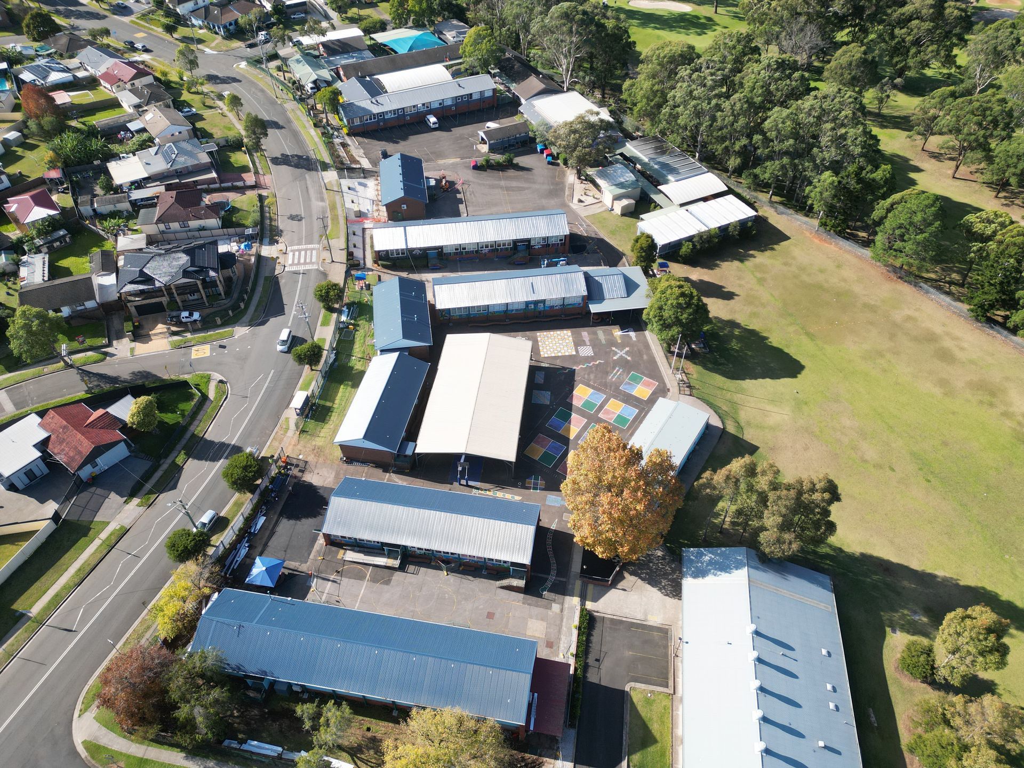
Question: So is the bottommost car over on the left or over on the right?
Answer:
left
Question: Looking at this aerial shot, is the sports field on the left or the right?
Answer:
right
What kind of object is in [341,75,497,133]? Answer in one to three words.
building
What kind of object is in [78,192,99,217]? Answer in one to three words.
shed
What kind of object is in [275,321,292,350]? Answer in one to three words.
vehicle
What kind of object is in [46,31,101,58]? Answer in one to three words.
house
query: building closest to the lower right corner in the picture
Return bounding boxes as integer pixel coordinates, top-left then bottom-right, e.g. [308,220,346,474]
[677,545,860,768]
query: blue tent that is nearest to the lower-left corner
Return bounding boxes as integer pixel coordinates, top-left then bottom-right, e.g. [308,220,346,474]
[245,557,289,595]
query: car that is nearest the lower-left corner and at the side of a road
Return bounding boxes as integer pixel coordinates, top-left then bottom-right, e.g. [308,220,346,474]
[192,501,223,534]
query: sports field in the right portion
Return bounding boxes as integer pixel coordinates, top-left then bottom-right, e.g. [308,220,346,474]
[575,195,1024,768]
